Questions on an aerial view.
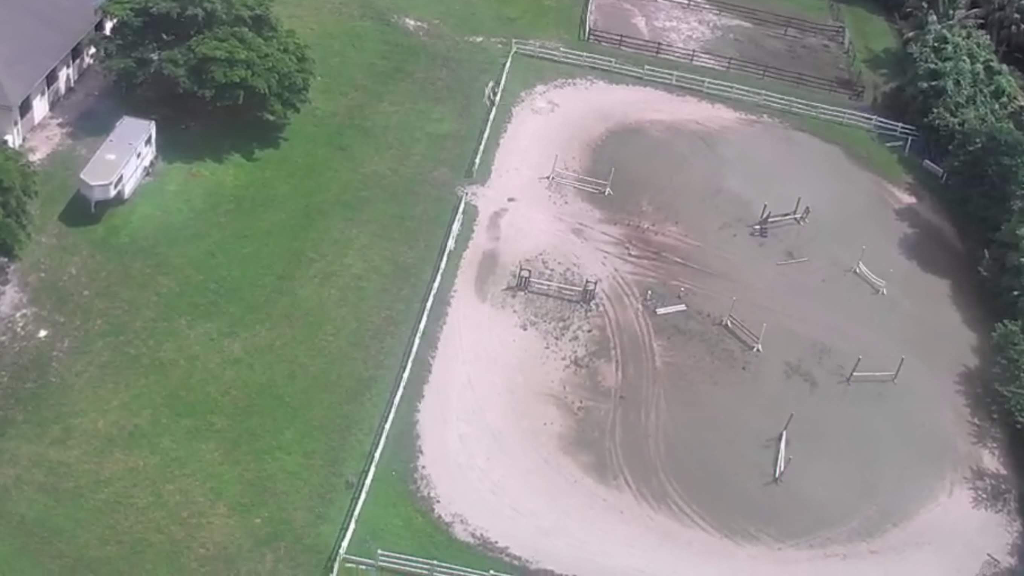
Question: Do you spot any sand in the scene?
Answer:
Yes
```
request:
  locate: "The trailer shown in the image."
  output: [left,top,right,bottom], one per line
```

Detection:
[83,116,156,214]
